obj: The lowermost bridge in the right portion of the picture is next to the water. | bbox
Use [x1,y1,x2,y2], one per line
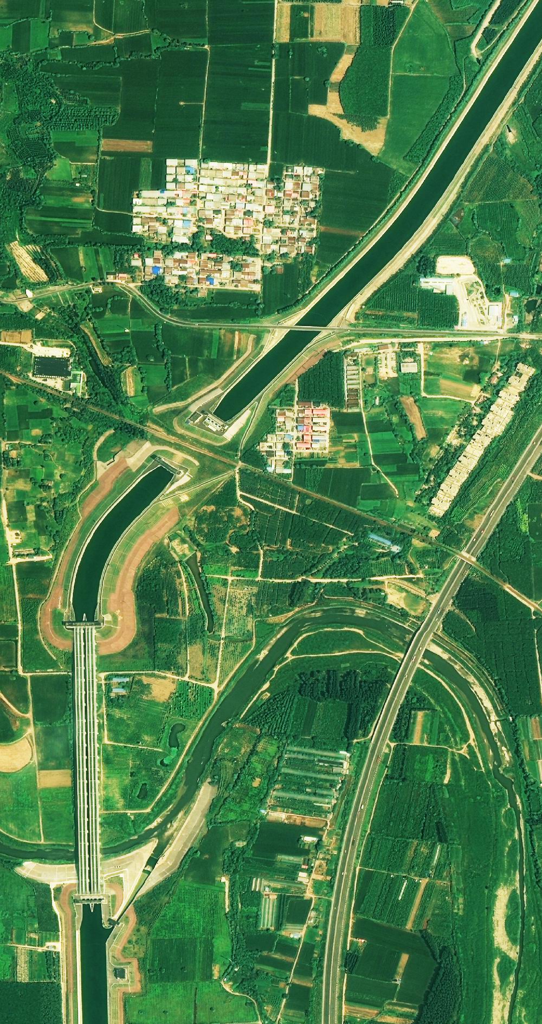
[400,623,434,678]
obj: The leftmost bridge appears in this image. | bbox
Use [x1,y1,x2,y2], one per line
[74,625,101,896]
